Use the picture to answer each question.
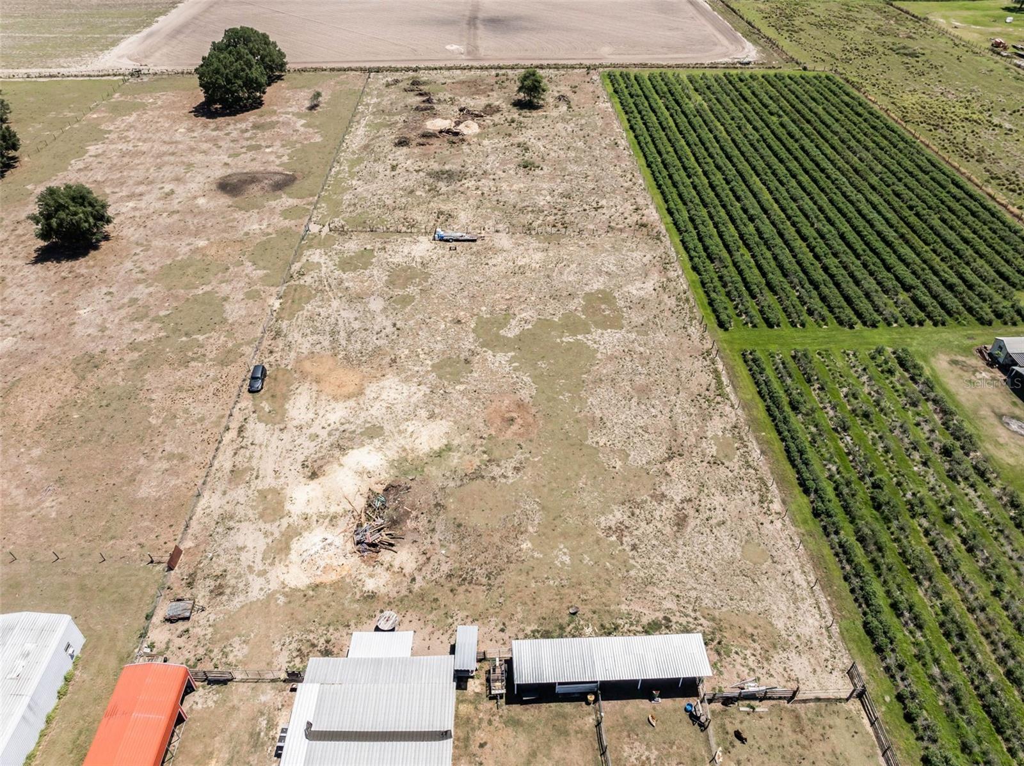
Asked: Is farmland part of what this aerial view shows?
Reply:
Yes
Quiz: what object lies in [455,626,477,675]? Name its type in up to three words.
shed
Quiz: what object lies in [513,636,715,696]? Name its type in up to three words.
shed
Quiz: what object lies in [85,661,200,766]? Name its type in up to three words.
barn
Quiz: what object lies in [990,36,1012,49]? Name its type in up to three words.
vehicle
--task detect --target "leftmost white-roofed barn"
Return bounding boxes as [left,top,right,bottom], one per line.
[0,610,85,766]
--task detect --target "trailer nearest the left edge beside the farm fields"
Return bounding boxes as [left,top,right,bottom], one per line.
[159,591,207,623]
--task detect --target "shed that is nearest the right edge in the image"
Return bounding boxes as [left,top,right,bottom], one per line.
[989,334,1024,367]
